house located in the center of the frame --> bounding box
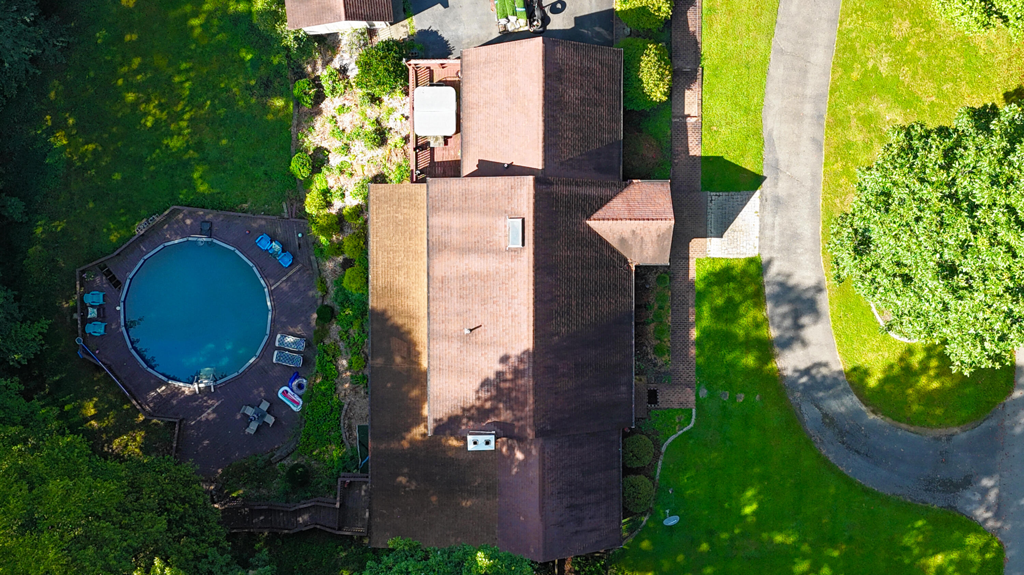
[367,36,674,563]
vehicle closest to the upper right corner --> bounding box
[528,0,548,31]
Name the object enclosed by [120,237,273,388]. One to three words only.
swimming pool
